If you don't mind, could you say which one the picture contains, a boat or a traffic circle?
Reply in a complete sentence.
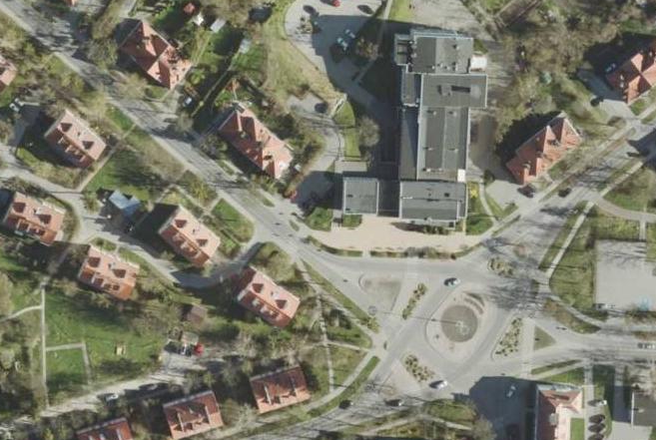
Of the two, only a traffic circle appears.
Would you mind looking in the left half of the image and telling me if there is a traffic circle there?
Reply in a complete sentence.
No, looking in the left half of the image, there is no traffic circle.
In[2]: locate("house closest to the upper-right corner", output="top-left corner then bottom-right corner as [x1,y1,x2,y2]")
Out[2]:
[605,34,656,104]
